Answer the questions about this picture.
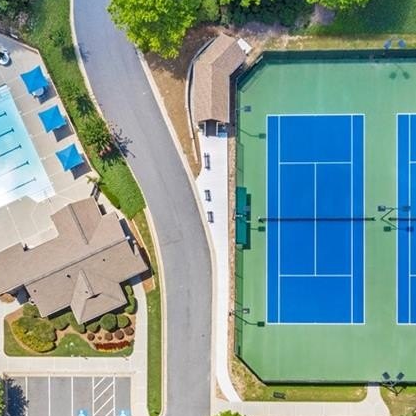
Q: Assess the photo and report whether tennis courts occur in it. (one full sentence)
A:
Yes, looking at the shot, I can spot a tennis court.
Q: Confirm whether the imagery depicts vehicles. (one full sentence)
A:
No, there isn't any vehicle down there.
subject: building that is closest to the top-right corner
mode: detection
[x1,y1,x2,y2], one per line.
[193,33,247,126]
